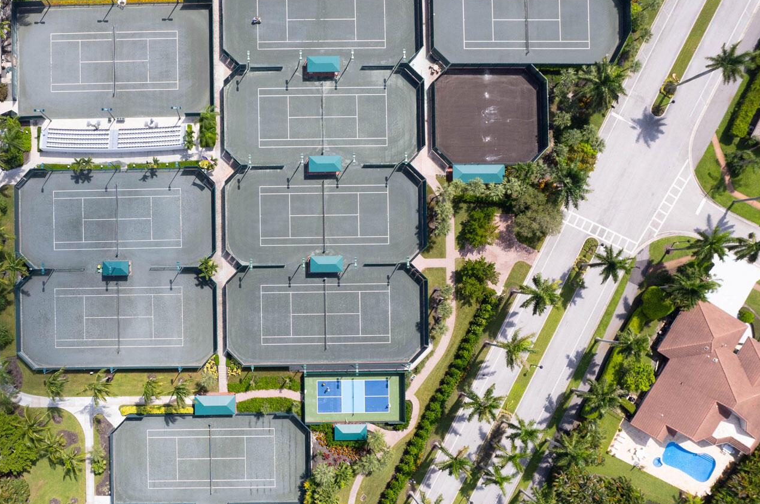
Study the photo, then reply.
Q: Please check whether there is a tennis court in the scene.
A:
Yes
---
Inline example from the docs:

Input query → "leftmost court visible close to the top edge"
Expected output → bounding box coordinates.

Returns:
[18,3,214,120]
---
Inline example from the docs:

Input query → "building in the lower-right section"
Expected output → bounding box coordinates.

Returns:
[630,301,760,455]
